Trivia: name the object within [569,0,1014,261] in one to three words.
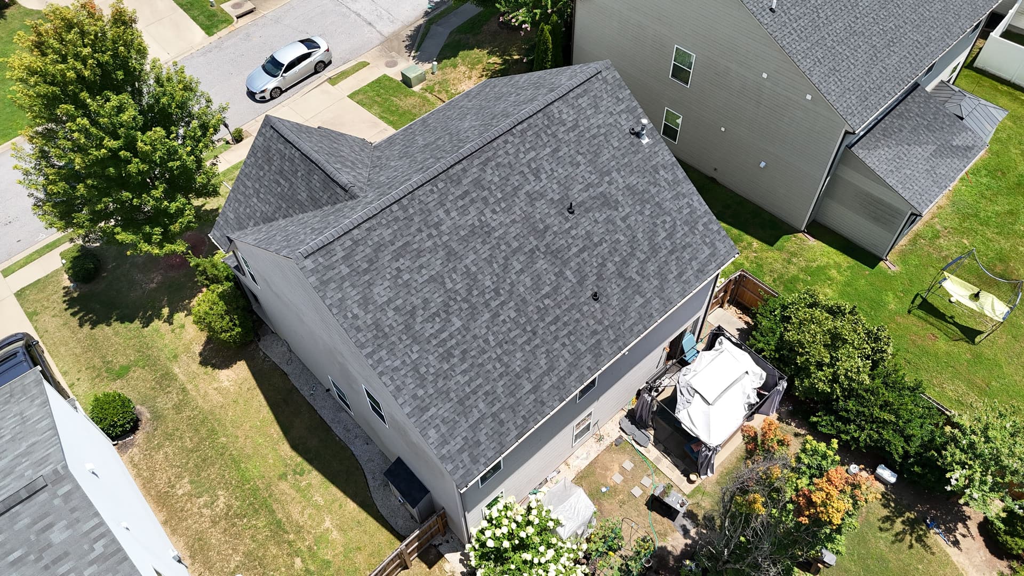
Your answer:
house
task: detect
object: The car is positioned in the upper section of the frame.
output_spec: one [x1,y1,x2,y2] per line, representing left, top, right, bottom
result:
[243,37,334,102]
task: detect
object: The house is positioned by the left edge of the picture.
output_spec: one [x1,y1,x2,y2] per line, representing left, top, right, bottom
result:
[0,365,192,576]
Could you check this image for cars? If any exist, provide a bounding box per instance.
[0,333,68,400]
[243,37,334,102]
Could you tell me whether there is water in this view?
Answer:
No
